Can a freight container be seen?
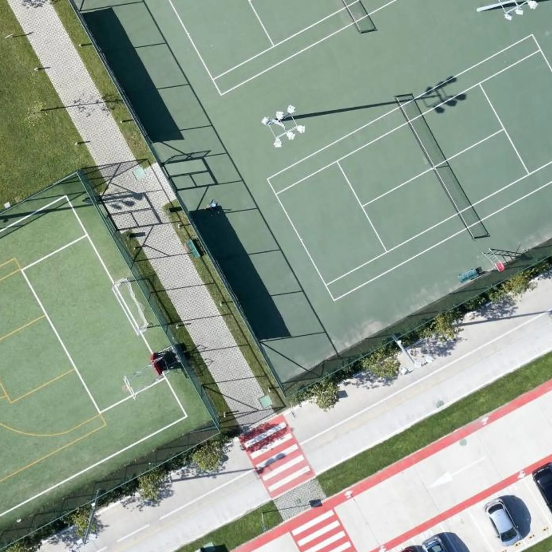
No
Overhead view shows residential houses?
No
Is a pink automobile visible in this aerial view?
No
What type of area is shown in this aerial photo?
sports ground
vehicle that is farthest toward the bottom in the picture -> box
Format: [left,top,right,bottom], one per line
[427,533,455,552]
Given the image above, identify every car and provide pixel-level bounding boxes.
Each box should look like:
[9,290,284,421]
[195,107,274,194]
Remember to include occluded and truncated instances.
[532,461,552,511]
[427,533,455,552]
[482,494,523,547]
